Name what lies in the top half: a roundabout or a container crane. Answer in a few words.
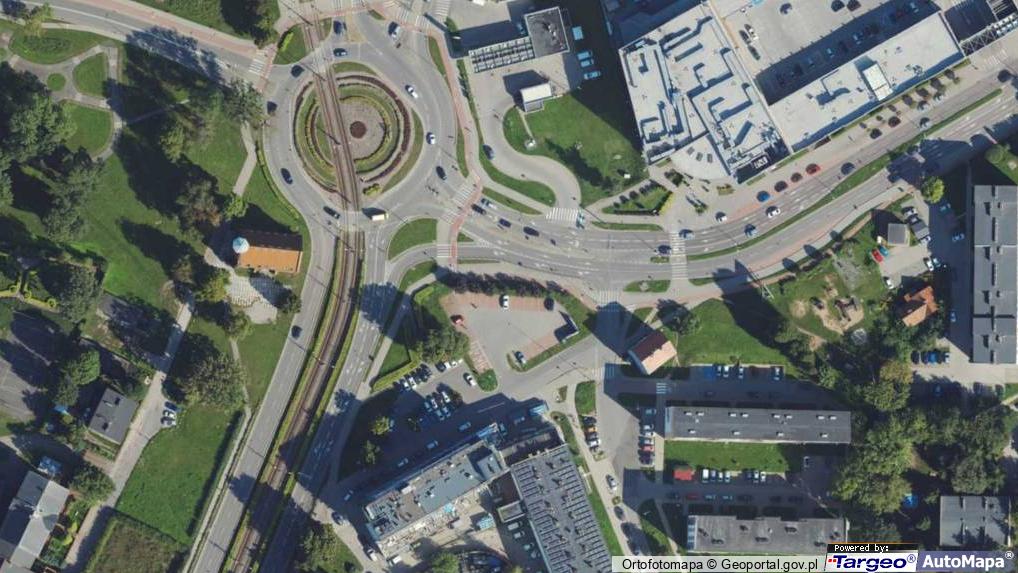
roundabout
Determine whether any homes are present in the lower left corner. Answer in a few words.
Yes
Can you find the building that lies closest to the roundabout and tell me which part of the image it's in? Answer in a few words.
left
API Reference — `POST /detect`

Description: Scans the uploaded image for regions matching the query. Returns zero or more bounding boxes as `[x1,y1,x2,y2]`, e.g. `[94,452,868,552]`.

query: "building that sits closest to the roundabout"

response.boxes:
[232,228,303,280]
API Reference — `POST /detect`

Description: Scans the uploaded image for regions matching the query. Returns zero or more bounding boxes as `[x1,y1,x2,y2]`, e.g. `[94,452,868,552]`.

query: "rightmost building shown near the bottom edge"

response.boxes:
[936,496,1010,545]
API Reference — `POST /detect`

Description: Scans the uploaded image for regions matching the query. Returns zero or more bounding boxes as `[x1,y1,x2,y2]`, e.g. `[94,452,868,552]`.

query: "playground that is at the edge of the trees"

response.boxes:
[785,277,868,352]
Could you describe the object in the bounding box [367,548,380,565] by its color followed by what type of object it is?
white vehicle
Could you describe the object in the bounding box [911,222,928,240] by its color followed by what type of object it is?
gray vehicle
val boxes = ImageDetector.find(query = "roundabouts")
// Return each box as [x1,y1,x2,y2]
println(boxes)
[263,12,472,243]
